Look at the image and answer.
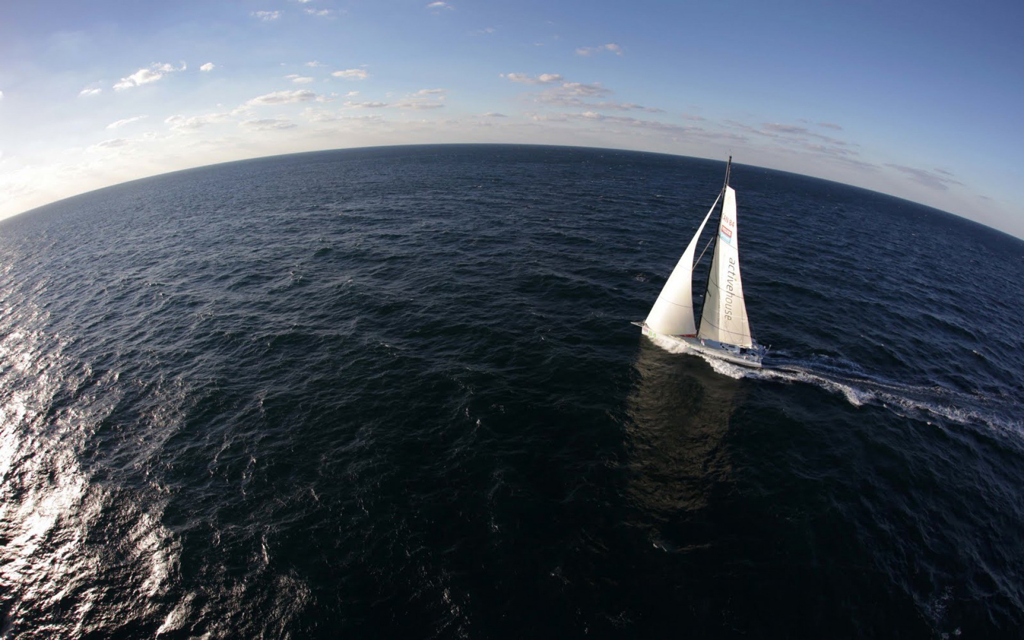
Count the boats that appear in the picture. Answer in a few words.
1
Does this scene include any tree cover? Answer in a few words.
No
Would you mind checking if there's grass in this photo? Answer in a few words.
No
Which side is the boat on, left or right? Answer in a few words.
right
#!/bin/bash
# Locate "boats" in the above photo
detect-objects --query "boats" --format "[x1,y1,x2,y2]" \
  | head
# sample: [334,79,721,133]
[631,146,771,367]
